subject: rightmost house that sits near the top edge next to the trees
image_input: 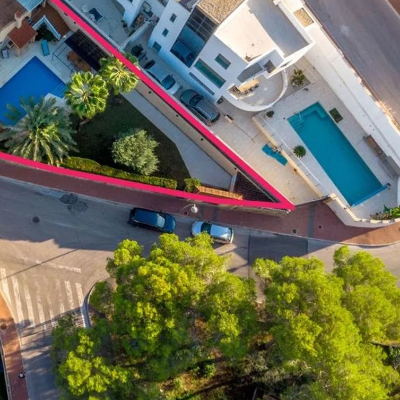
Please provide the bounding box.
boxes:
[150,0,315,124]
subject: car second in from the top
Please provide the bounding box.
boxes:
[175,86,225,127]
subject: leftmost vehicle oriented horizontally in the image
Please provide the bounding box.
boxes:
[125,205,178,234]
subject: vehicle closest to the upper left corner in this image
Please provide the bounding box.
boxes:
[139,56,180,97]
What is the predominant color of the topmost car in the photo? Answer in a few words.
blue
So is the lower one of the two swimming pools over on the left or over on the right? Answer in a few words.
right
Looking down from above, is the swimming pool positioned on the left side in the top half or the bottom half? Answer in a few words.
top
